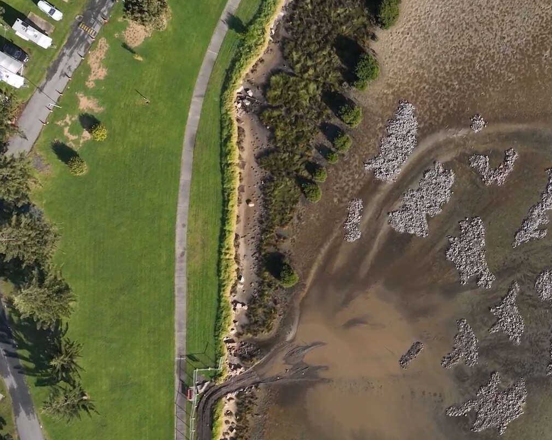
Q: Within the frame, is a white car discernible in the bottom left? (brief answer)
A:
No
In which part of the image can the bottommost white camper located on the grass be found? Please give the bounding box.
[0,51,34,90]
